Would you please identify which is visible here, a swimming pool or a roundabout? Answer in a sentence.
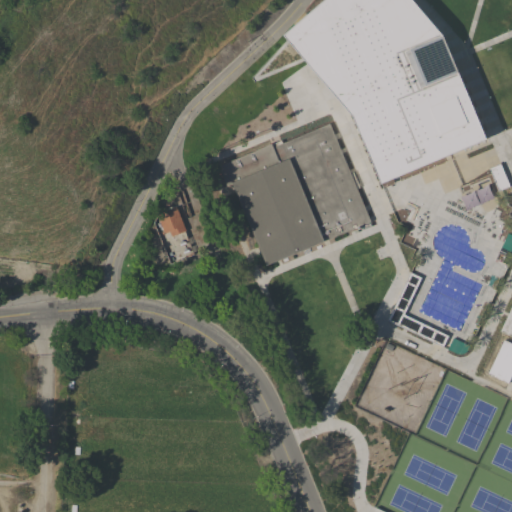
There is a swimming pool in the scene.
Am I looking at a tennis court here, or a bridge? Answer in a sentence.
The one in the frame is a tennis court.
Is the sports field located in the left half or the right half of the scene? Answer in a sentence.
You can find the sports field on the left side of the picture.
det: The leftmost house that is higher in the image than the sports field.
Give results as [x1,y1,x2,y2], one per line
[158,208,188,238]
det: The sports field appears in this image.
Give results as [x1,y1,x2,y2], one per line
[71,347,274,512]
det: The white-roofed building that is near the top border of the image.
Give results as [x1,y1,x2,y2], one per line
[285,0,486,184]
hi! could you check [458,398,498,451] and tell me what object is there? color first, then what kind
blue tennis court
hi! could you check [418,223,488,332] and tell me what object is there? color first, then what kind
blue swimming pool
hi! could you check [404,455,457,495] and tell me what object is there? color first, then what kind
blue tennis court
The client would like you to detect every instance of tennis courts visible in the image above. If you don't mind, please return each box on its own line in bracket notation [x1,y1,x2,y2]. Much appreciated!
[472,486,512,512]
[390,486,443,512]
[404,455,457,495]
[458,398,498,451]
[492,443,512,472]
[426,384,466,436]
